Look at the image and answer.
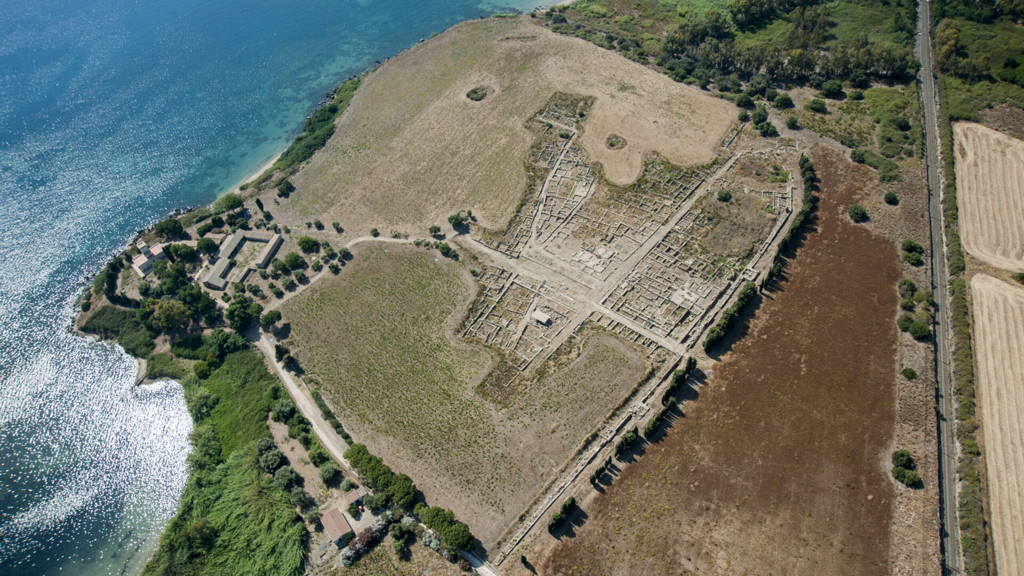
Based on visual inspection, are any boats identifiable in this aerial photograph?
No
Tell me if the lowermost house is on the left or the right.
left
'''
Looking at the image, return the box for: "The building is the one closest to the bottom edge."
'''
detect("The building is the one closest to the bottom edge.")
[320,509,351,543]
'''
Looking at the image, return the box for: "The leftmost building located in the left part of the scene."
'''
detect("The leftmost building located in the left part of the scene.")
[132,241,167,278]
